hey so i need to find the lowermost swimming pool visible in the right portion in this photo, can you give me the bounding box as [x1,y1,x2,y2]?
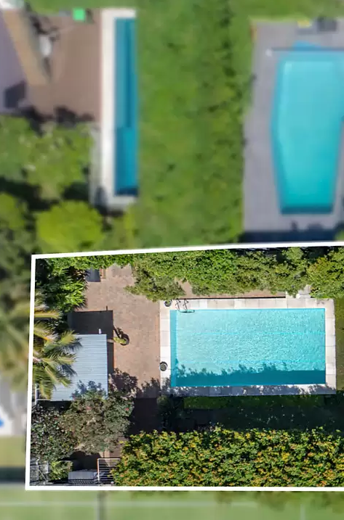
[160,300,335,395]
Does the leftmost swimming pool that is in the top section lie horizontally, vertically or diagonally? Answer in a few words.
vertically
